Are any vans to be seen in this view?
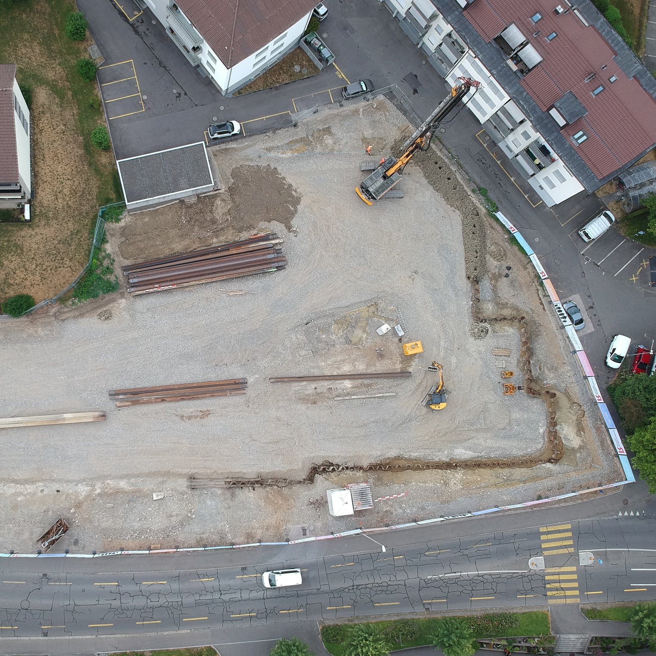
Yes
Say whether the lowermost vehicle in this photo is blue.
No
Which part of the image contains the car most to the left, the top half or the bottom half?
top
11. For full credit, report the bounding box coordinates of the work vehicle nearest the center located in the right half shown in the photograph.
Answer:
[420,362,451,416]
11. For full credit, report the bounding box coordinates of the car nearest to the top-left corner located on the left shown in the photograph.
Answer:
[207,118,241,140]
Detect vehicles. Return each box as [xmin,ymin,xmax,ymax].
[630,346,651,380]
[316,2,332,26]
[562,296,591,333]
[207,118,241,140]
[261,568,302,589]
[340,78,375,99]
[420,362,451,416]
[602,332,633,371]
[572,208,616,246]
